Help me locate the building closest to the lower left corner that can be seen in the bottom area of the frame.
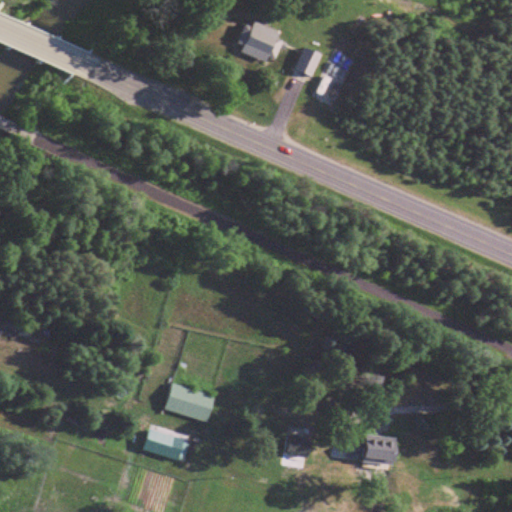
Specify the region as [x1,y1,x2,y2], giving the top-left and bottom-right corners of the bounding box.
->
[143,424,189,460]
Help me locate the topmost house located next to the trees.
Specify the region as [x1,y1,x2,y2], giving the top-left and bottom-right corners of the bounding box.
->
[242,22,283,62]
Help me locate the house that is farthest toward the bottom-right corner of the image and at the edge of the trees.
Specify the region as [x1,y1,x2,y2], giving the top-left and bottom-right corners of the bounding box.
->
[362,434,398,470]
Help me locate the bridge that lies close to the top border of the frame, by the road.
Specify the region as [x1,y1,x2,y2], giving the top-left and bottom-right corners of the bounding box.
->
[0,14,92,84]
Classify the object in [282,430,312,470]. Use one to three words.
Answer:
house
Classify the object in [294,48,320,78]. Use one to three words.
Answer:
building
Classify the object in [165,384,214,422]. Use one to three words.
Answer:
barn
